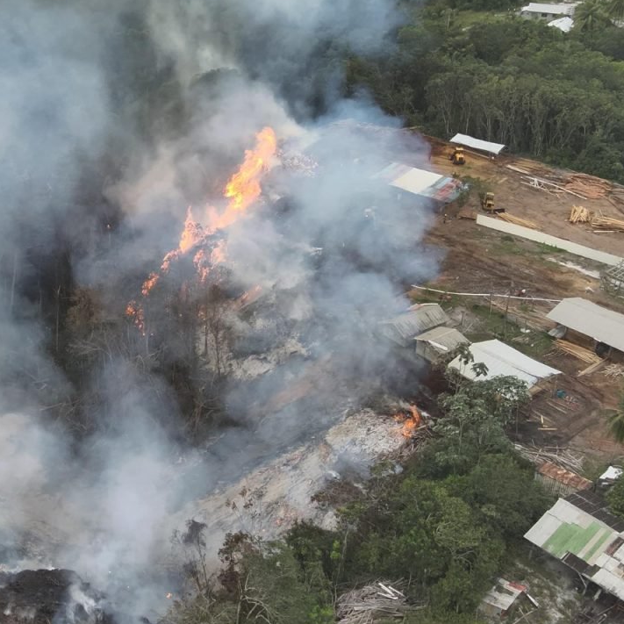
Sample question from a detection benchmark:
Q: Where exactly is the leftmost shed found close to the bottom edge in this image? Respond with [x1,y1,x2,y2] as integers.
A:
[476,579,541,619]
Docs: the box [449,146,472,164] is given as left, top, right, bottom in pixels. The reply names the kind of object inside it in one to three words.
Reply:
work vehicle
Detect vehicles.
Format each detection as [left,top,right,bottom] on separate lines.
[449,146,472,164]
[479,192,503,217]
